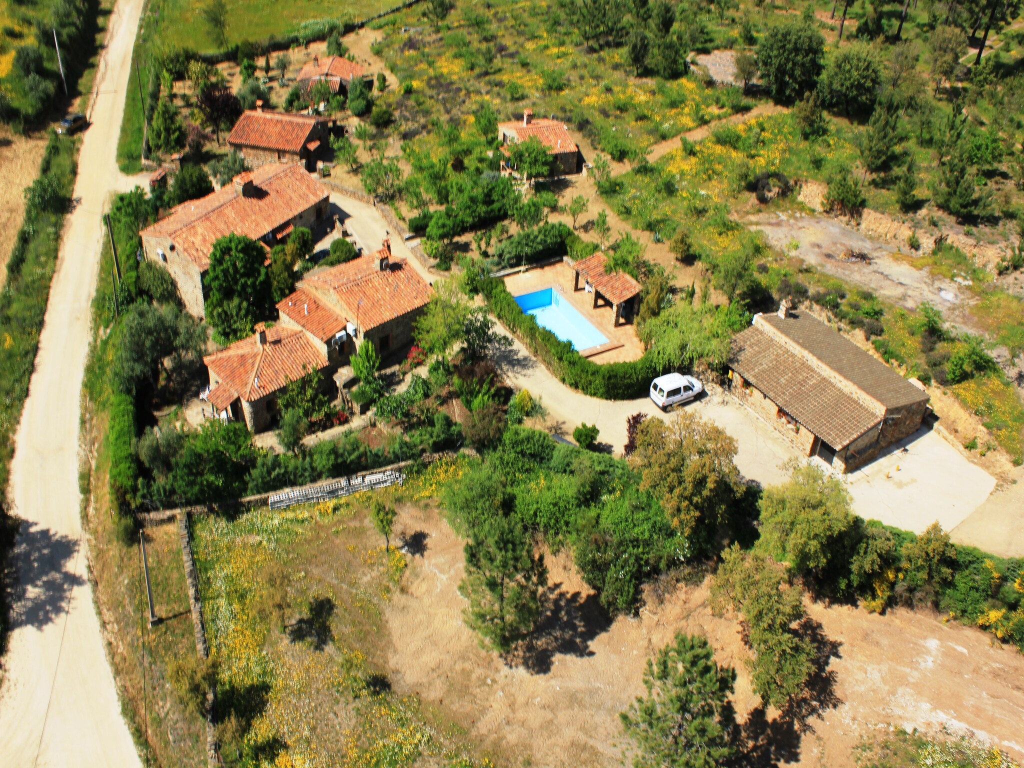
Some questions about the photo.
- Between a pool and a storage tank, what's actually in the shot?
pool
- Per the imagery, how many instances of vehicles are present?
two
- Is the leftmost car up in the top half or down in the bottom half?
top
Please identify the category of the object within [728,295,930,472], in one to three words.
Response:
barn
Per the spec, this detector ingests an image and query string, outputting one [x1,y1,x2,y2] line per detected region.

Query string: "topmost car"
[52,109,90,135]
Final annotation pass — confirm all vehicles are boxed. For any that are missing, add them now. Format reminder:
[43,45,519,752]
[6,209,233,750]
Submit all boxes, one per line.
[52,109,90,135]
[647,376,706,413]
